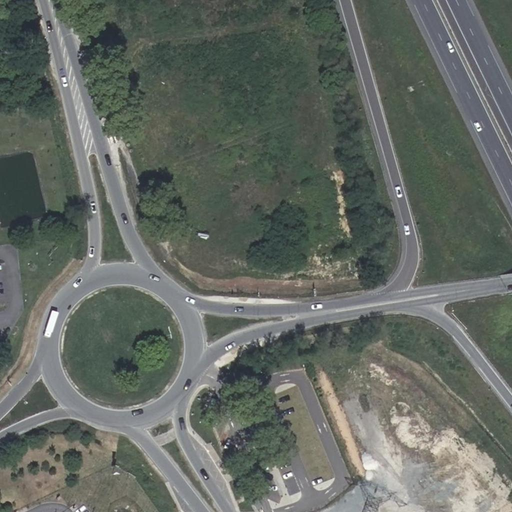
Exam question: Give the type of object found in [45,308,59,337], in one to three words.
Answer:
vehicle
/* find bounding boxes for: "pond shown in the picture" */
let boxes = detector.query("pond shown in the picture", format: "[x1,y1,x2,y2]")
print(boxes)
[0,153,44,225]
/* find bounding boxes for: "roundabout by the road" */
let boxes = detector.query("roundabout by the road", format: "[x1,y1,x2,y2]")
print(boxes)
[40,264,206,430]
